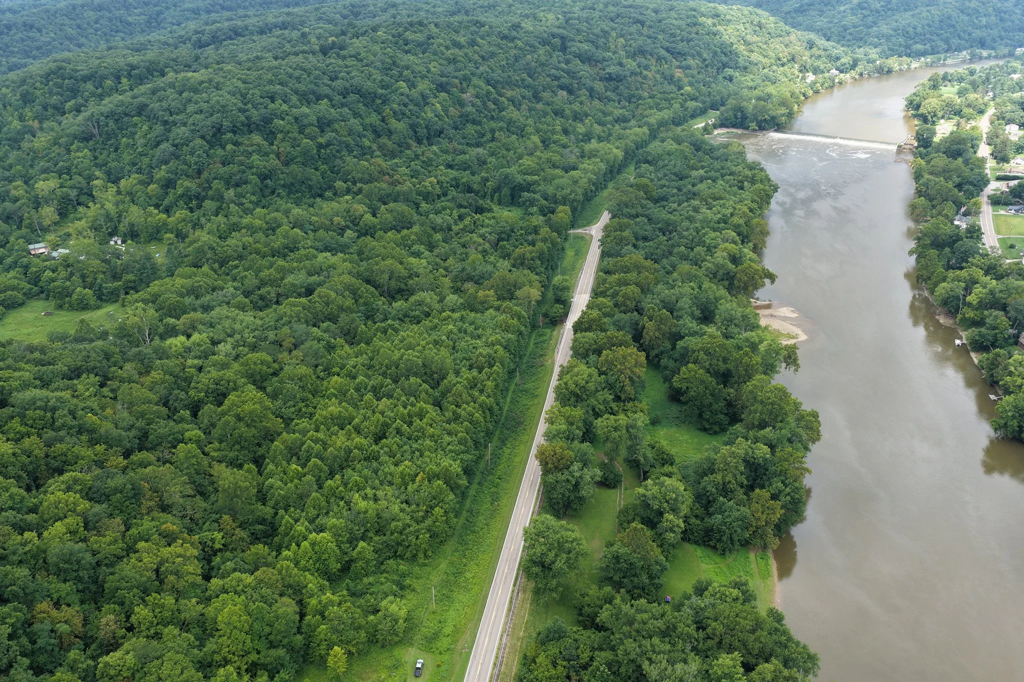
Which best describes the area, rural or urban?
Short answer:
rural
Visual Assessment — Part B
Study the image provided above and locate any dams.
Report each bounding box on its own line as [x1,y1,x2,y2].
[757,131,908,152]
